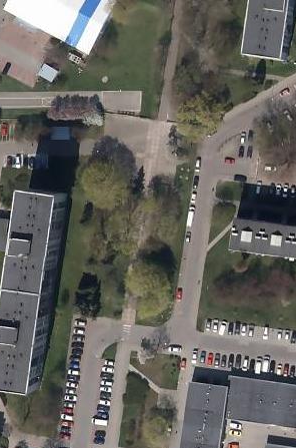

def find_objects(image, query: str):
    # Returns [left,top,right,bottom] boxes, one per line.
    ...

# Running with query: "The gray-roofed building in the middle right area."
[228,219,296,261]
